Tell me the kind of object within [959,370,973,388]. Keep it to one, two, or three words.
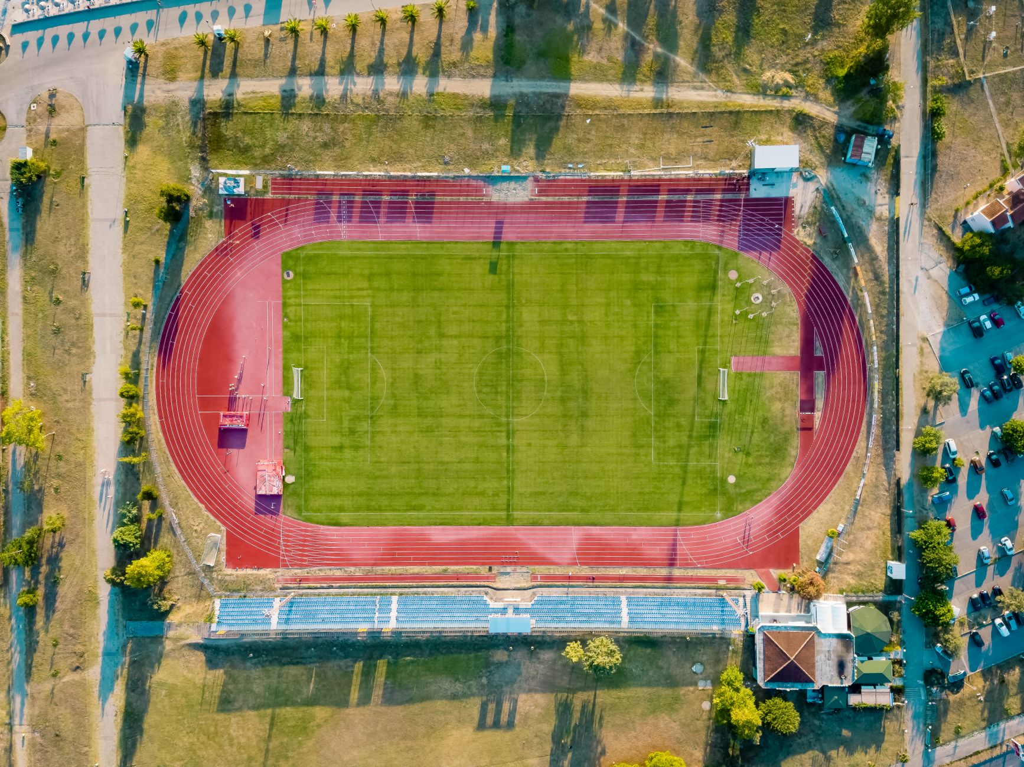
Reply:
car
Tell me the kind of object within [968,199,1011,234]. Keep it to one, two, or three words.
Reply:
house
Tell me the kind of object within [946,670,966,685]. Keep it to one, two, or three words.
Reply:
vehicle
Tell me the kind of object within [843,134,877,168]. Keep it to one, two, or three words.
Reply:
shed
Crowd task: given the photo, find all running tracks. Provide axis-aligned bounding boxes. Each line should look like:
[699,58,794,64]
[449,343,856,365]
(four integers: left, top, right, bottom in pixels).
[156,198,866,591]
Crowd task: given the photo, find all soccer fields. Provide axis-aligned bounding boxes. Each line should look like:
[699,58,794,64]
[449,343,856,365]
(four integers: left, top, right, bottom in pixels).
[282,241,825,526]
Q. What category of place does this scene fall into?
sports ground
